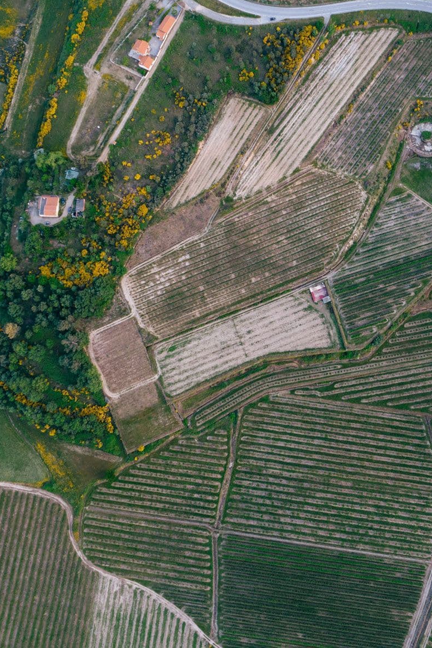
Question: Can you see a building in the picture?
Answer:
Yes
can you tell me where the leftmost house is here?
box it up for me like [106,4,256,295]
[40,198,61,216]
